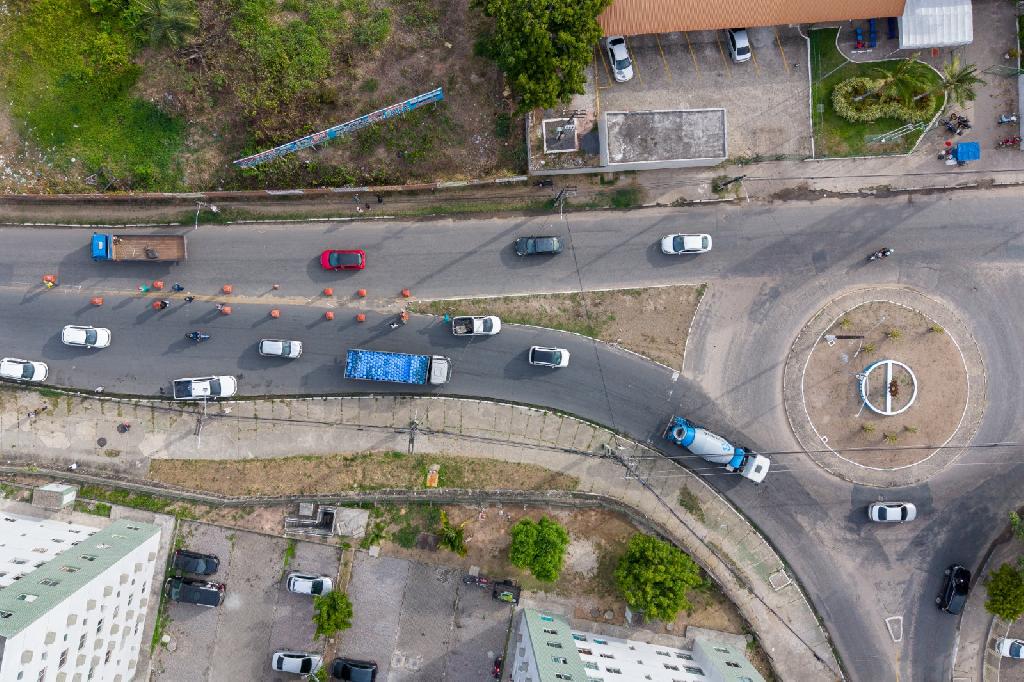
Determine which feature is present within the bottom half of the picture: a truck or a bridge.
truck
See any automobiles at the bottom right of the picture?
Yes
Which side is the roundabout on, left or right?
right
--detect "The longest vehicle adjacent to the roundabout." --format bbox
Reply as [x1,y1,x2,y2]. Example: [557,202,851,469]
[661,414,769,486]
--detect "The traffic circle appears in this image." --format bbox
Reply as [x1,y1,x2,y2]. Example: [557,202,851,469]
[802,300,972,470]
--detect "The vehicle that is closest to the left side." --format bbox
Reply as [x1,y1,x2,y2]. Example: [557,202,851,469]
[0,358,51,384]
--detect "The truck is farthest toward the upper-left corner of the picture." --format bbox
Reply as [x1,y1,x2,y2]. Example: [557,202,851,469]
[92,231,189,265]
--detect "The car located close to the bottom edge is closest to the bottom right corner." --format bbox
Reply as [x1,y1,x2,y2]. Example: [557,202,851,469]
[994,637,1024,660]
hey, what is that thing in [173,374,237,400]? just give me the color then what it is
white truck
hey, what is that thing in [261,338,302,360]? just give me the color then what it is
white car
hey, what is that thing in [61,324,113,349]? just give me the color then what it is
white car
